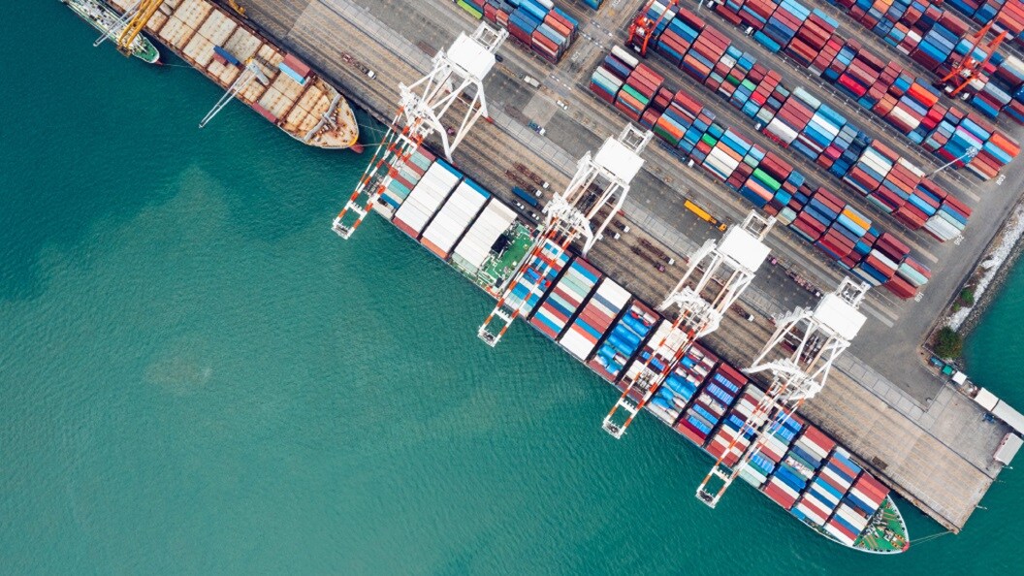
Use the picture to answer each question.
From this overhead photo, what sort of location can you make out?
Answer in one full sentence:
This looks like a port.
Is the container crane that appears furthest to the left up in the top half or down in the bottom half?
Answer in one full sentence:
The top half of the photo is where the container crane that appears furthest to the left is.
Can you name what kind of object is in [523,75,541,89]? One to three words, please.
vehicle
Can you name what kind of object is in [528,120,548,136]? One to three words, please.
vehicle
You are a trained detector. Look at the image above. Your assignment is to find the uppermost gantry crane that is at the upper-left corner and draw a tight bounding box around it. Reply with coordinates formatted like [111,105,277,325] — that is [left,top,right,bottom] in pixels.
[113,0,176,57]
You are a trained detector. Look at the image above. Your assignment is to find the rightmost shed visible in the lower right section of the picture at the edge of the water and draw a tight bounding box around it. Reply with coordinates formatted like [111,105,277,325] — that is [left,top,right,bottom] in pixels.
[990,432,1024,466]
